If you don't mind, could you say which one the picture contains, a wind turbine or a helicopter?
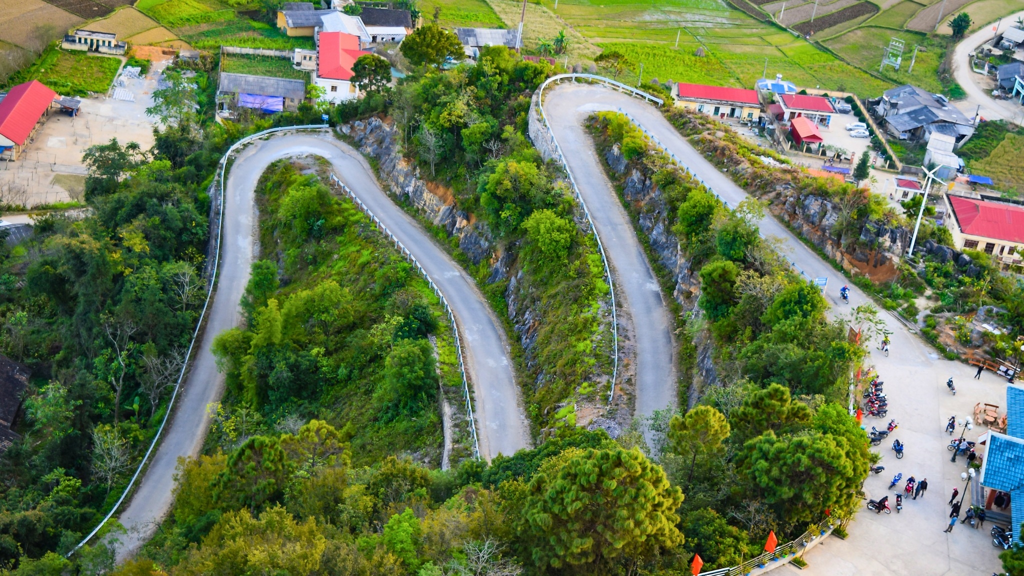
wind turbine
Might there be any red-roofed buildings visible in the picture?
Yes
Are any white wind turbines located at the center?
No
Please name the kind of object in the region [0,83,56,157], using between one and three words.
building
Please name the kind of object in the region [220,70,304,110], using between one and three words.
building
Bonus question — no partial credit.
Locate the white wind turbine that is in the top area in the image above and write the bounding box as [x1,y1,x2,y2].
[904,160,954,259]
